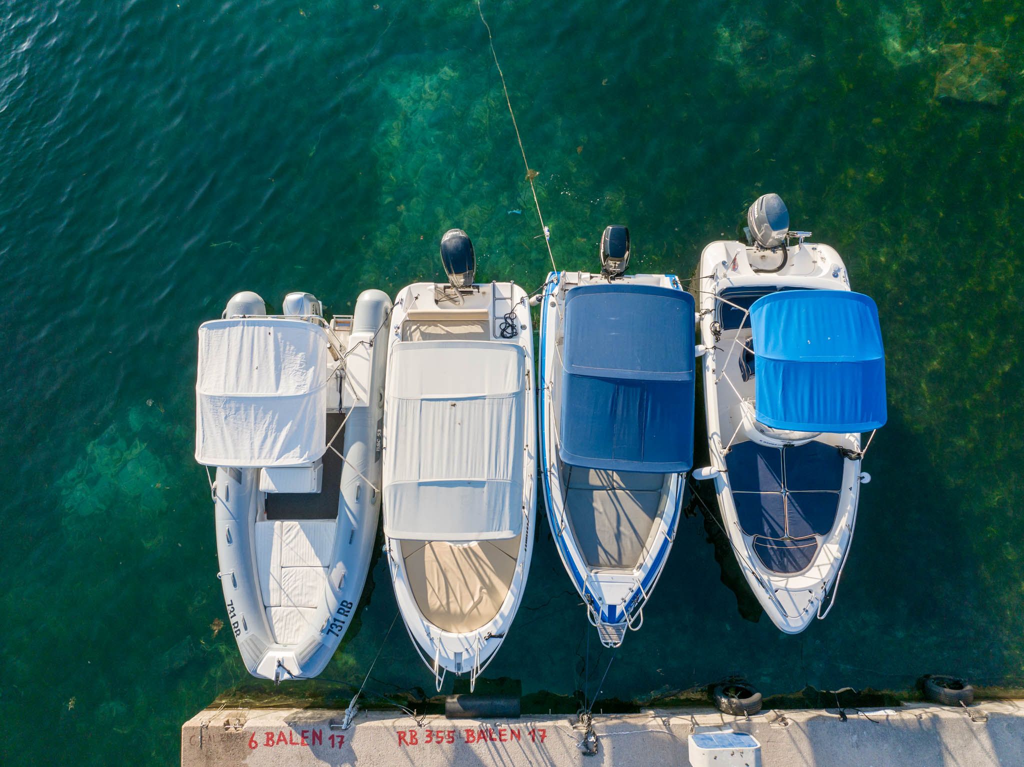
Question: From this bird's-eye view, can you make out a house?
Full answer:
No, no house can be seen from above.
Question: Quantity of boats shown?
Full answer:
My tally gives 4 boats in this view.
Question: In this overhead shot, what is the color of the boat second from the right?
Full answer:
In this view, the boat second from the right is blue.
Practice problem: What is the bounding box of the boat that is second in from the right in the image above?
[536,222,697,648]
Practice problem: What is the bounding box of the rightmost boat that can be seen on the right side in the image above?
[697,193,887,635]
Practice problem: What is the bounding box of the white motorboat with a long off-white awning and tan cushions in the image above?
[382,227,539,693]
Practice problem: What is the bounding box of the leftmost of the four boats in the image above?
[195,283,393,682]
